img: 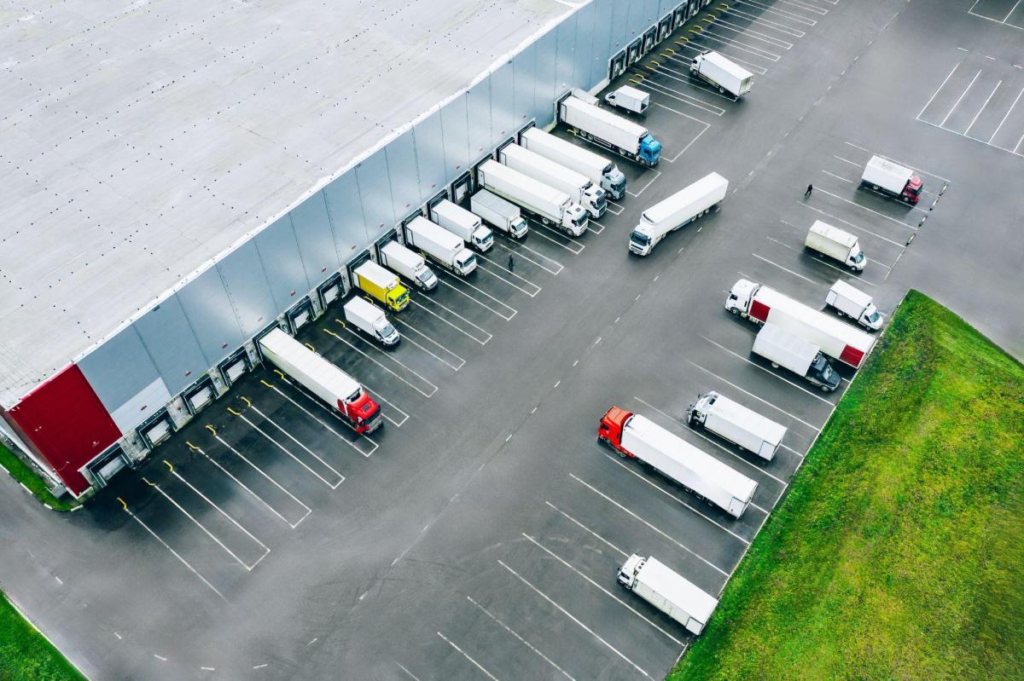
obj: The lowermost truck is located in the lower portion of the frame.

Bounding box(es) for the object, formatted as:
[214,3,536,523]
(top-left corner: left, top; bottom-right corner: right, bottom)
[613,550,719,636]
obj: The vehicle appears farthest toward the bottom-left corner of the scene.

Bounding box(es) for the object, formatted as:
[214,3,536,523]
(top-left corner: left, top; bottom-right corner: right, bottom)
[258,326,386,432]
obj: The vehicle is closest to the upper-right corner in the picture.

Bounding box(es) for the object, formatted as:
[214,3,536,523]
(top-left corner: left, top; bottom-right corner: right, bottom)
[860,155,925,203]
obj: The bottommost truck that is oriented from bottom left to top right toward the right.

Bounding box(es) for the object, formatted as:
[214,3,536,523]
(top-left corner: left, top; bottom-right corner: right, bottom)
[626,172,729,256]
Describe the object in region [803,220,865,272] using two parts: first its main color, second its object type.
white van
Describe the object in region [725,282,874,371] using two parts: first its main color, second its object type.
white truck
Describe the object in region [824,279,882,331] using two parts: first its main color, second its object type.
white van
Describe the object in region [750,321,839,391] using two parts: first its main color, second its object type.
white truck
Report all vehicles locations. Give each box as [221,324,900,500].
[379,240,438,292]
[690,52,753,100]
[598,408,757,520]
[626,172,729,256]
[406,216,479,276]
[613,550,719,636]
[750,321,839,391]
[824,279,882,331]
[522,125,630,197]
[431,198,496,252]
[560,96,665,165]
[688,394,787,463]
[803,220,865,272]
[860,155,925,203]
[470,189,531,240]
[352,259,413,313]
[344,295,399,346]
[605,85,650,117]
[725,282,874,371]
[258,326,386,432]
[478,159,590,235]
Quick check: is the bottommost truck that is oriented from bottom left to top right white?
Yes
